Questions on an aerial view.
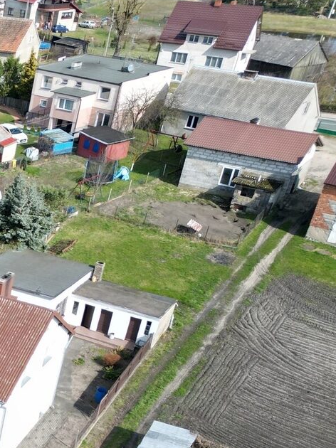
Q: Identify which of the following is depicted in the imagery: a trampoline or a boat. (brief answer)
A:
trampoline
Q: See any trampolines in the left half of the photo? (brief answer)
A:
Yes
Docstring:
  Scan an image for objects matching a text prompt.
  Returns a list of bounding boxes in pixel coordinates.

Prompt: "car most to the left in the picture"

[4,125,30,141]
